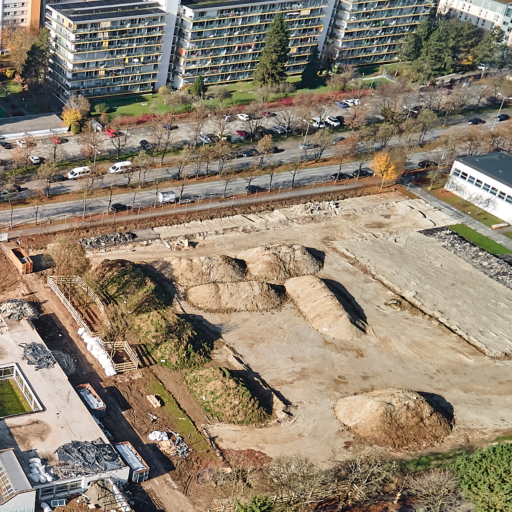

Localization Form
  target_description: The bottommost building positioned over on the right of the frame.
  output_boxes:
[442,150,512,227]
